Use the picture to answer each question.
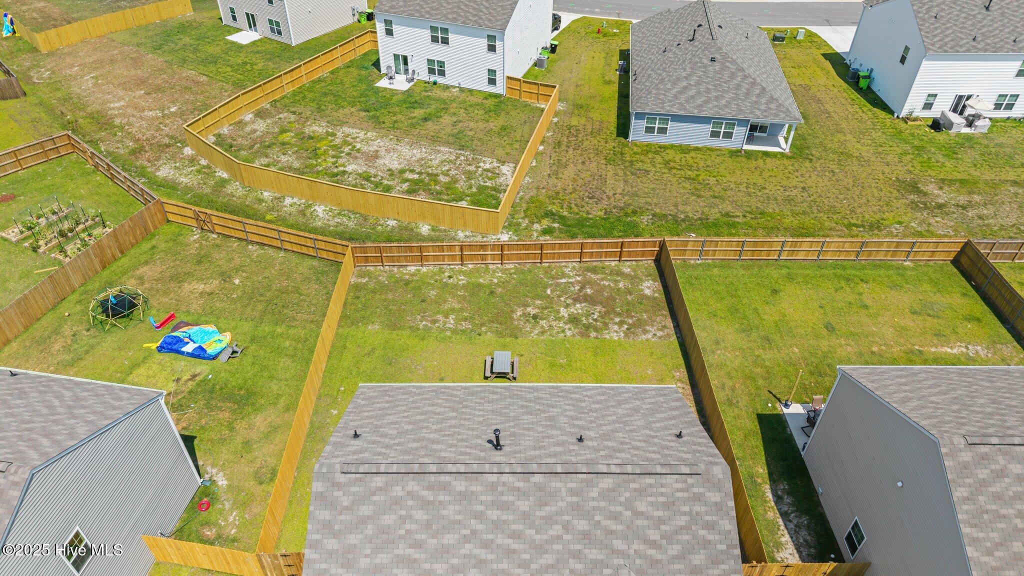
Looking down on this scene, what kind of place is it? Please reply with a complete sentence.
The area seen from above is a residential area.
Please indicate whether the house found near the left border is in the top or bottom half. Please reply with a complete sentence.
You can find the house found near the left border in the bottom half.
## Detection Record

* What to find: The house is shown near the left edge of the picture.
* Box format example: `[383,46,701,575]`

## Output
[0,364,203,576]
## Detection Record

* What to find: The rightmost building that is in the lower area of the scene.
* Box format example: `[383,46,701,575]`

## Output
[802,365,1024,576]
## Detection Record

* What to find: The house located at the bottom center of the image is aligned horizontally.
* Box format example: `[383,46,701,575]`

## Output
[297,382,741,576]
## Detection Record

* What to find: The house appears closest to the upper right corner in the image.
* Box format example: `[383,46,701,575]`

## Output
[845,0,1024,118]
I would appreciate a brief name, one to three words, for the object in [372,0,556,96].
house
